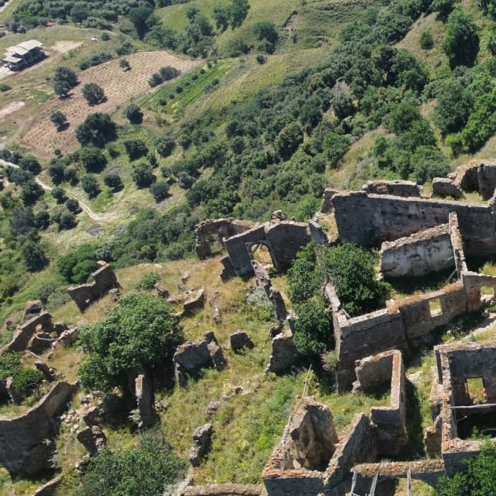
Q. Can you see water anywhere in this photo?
No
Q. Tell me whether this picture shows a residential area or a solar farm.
residential area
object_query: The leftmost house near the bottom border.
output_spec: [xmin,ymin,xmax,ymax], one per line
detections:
[260,396,372,496]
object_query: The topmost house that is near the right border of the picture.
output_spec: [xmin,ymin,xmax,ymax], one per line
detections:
[316,191,496,381]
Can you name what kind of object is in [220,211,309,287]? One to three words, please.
building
